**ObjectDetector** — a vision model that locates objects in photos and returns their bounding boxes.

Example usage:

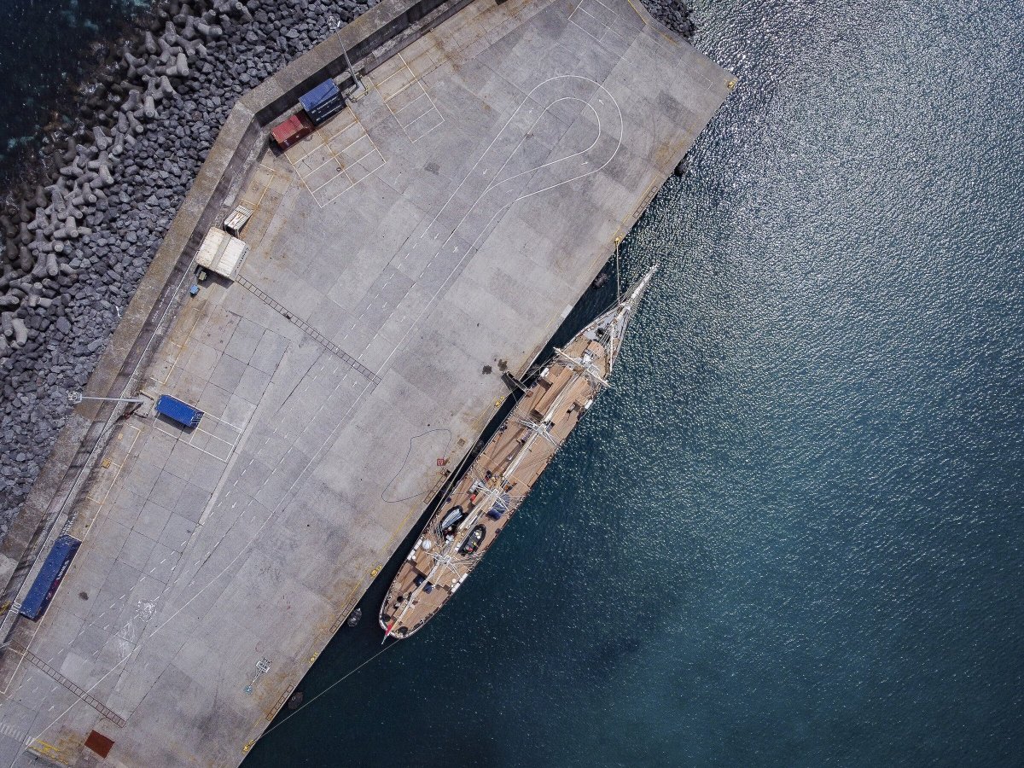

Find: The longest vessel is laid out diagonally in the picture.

[379,264,657,643]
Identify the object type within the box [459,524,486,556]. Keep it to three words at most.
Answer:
boat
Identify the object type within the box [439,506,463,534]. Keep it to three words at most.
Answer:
boat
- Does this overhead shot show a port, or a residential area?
port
